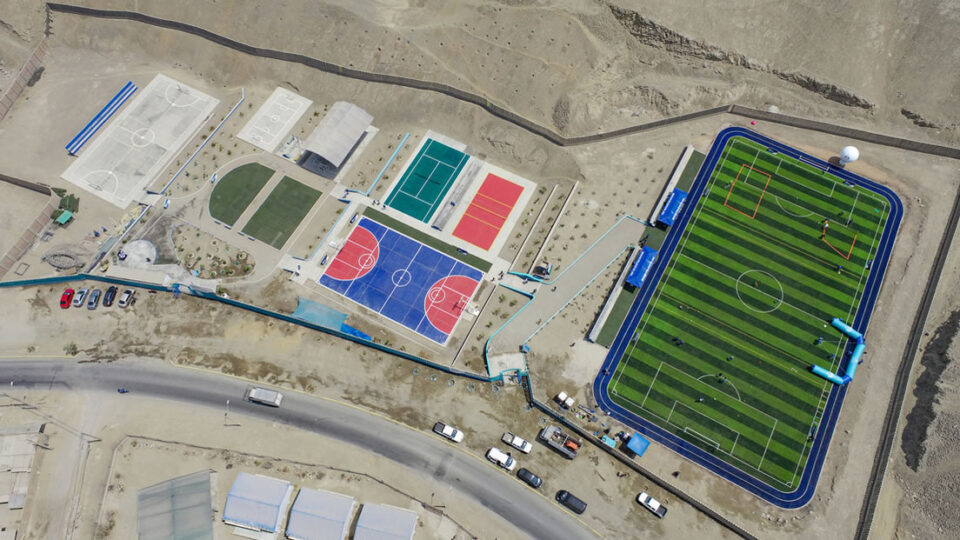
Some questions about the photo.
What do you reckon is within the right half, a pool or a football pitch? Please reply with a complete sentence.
It is a football pitch that can be seen within the right half.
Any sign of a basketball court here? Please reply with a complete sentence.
Yes, the picture does show a basketball court.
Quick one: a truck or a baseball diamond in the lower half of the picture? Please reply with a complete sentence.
Looking in the lower half of the picture, you will find a truck.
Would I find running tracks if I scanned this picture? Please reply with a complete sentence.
Yes, the picture does show a running track.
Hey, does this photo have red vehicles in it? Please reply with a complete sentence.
Yes, a red vehicle is visible in the scene.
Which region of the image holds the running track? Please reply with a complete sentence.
You can find the running track in the right area of the picture.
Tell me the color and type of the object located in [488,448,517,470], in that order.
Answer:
white car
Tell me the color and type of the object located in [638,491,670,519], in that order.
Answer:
white truck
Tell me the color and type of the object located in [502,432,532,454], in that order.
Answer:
white truck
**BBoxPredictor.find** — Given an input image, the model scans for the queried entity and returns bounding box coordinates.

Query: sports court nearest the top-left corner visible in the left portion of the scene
[60,73,220,209]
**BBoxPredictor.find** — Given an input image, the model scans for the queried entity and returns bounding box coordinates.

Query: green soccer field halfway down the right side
[608,136,892,493]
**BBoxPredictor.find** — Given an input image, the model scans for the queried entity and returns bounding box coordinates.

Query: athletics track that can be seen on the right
[594,127,904,509]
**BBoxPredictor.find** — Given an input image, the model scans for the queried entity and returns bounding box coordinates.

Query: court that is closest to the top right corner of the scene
[453,173,524,251]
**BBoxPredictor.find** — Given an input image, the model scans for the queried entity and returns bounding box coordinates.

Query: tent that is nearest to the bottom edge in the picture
[624,432,650,458]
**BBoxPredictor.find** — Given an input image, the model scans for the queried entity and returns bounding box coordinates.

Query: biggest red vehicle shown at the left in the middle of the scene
[56,287,75,308]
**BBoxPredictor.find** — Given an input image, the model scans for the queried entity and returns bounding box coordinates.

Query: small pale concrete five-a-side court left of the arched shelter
[237,87,312,153]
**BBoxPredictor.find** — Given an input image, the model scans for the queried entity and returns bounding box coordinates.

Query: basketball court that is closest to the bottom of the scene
[317,216,485,345]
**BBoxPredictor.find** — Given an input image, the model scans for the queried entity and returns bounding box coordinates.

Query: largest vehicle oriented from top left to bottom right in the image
[538,428,585,465]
